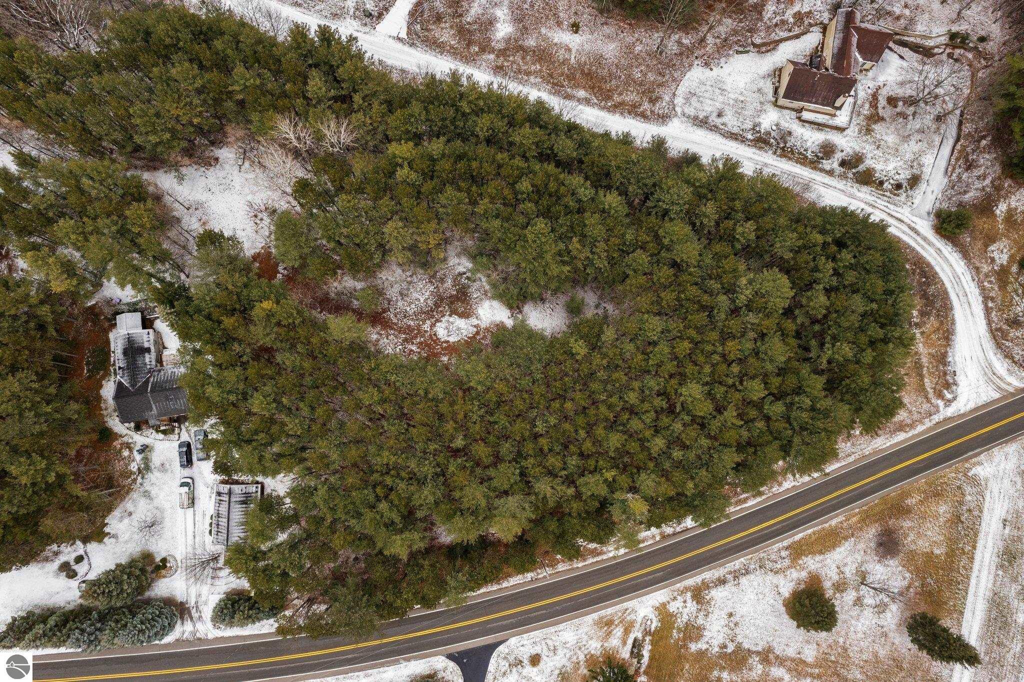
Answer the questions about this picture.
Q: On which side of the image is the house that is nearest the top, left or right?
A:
right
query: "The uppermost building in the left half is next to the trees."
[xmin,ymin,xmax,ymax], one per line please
[113,313,198,431]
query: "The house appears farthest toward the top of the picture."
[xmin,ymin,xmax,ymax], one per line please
[777,9,893,131]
